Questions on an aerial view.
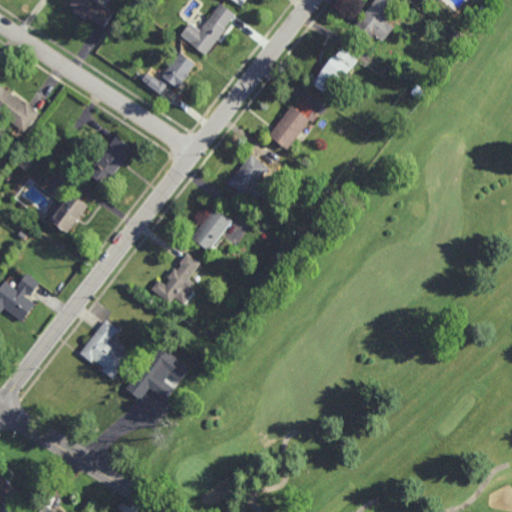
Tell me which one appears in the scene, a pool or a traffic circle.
pool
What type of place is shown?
golf course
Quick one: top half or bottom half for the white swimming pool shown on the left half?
top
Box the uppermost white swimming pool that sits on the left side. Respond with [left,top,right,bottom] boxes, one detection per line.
[180,0,205,28]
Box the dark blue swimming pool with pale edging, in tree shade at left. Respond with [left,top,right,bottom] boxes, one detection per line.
[14,182,52,214]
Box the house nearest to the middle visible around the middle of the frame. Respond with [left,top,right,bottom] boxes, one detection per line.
[192,209,234,250]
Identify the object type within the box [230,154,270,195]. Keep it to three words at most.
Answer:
house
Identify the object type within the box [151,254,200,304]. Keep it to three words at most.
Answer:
house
